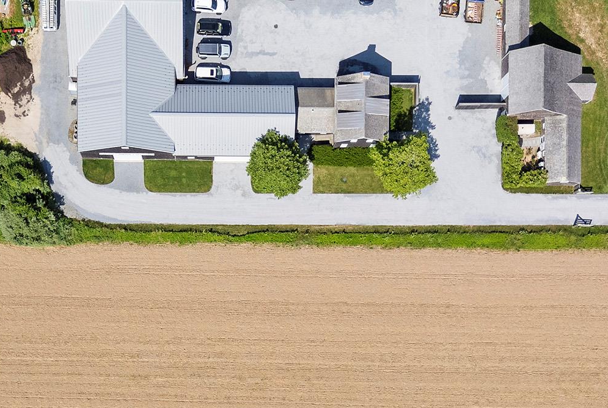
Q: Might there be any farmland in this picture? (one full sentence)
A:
Yes, farmland can be seen from above here.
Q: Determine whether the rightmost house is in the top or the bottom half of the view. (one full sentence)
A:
Seen from above, the rightmost house lies in the top half of the view.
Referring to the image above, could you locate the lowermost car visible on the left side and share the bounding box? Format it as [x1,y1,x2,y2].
[194,65,231,84]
